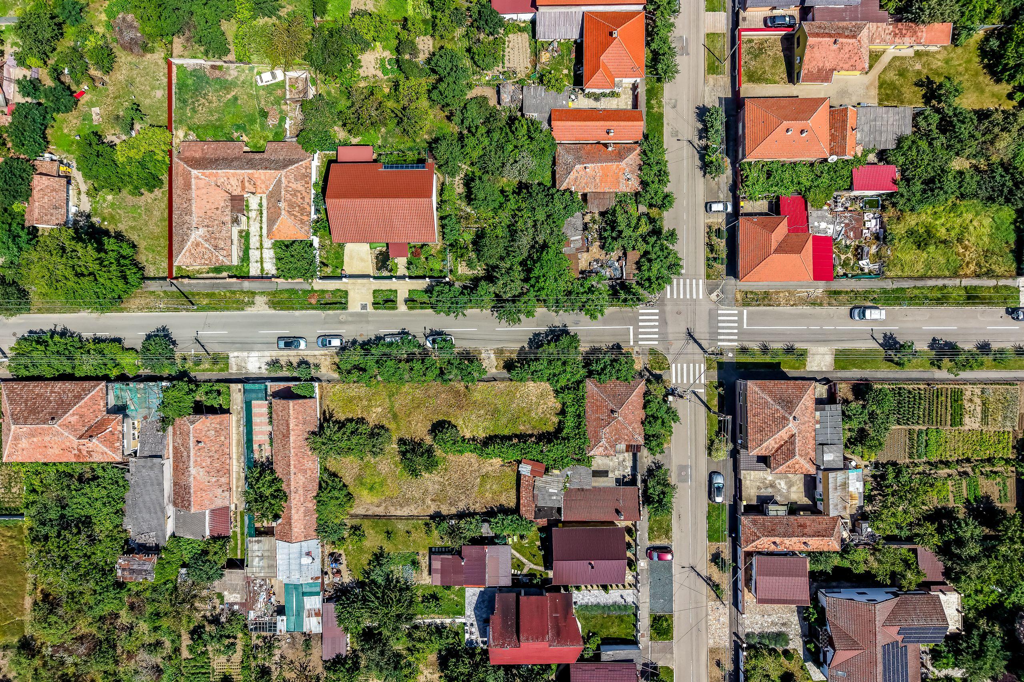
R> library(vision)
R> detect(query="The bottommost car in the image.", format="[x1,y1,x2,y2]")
[646,547,673,563]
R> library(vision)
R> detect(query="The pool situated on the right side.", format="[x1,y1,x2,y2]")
[864,196,883,209]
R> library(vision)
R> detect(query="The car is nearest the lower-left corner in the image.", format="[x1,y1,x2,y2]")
[277,336,308,351]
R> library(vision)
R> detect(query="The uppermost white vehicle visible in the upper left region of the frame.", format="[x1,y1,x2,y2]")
[255,68,279,87]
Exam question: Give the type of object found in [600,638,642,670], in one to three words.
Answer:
shed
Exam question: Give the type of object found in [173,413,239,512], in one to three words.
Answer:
house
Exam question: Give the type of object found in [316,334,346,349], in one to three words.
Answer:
car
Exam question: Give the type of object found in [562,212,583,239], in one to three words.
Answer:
shed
